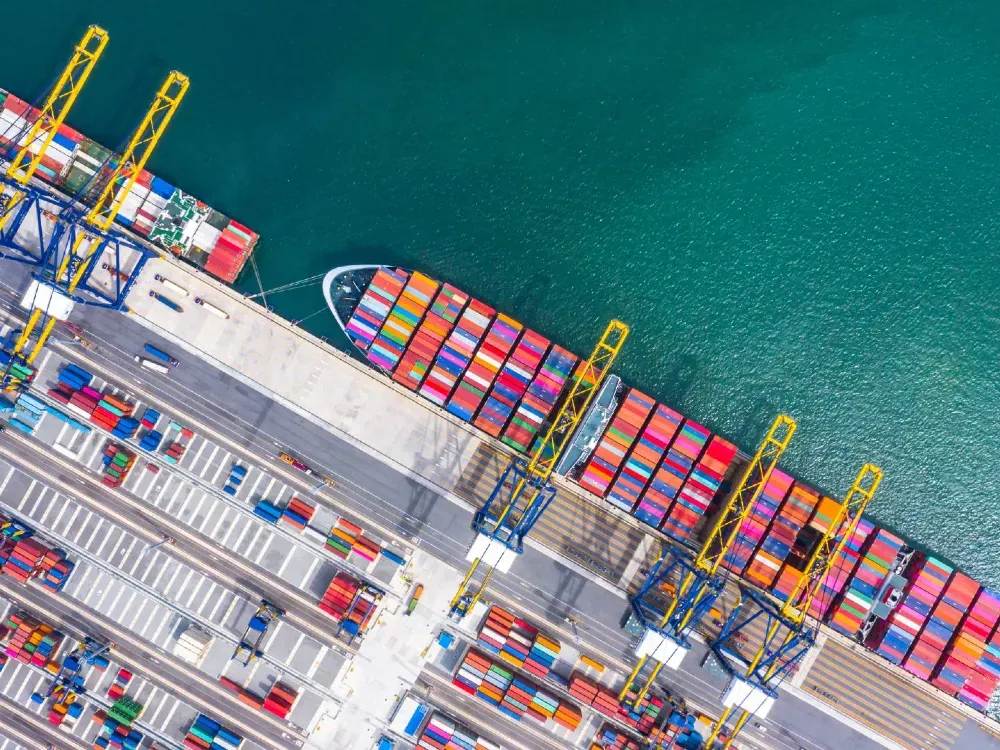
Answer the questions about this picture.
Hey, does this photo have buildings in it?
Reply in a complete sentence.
Yes, a building is visible in the scene.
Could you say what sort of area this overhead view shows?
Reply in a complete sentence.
The picture captures a port.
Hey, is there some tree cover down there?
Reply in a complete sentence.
No, the scene doesn't show any tree cover.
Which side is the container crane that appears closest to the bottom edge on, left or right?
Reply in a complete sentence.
The container crane that appears closest to the bottom edge sits on the right side.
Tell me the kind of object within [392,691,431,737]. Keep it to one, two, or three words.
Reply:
building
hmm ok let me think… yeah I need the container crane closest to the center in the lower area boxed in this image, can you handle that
[449,320,627,618]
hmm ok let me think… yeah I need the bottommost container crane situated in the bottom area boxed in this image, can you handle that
[647,688,697,750]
